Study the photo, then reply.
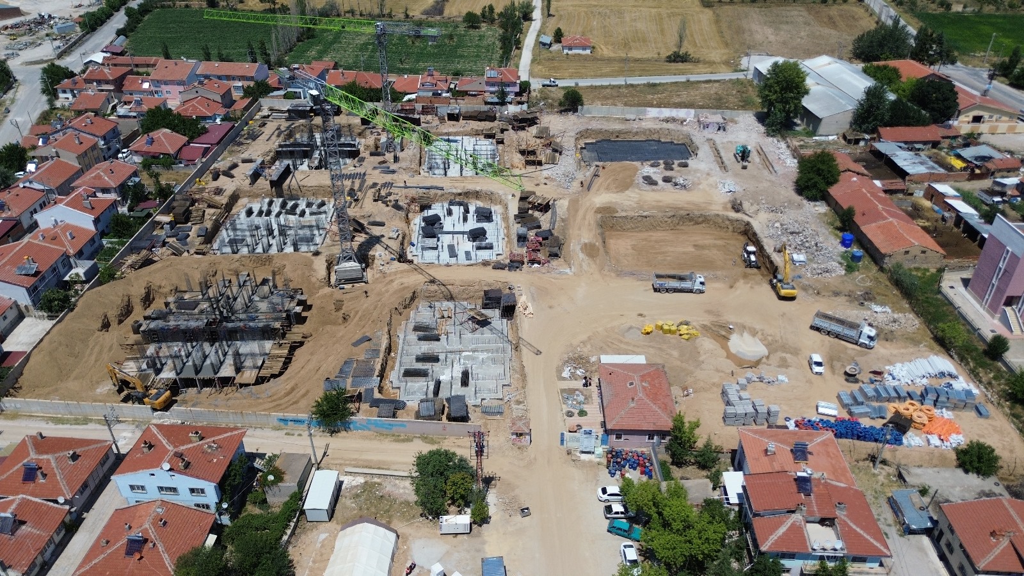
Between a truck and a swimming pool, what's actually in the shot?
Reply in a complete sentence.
The image shows a truck.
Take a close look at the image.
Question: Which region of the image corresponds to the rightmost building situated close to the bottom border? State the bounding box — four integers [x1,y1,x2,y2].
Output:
[921,478,1024,576]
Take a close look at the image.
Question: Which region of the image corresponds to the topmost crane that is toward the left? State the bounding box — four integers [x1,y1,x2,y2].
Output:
[204,11,442,152]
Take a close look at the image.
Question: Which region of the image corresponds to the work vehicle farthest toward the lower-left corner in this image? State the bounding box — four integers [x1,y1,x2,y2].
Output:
[102,359,172,405]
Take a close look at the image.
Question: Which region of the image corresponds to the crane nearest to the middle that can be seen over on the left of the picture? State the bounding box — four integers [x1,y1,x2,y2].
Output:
[288,62,530,282]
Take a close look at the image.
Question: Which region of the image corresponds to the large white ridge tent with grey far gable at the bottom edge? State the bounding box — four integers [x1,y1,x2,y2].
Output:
[321,486,407,576]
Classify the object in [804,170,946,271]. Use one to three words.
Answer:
house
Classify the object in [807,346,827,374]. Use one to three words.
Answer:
vehicle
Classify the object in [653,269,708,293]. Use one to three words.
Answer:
truck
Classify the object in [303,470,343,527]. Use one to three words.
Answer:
building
